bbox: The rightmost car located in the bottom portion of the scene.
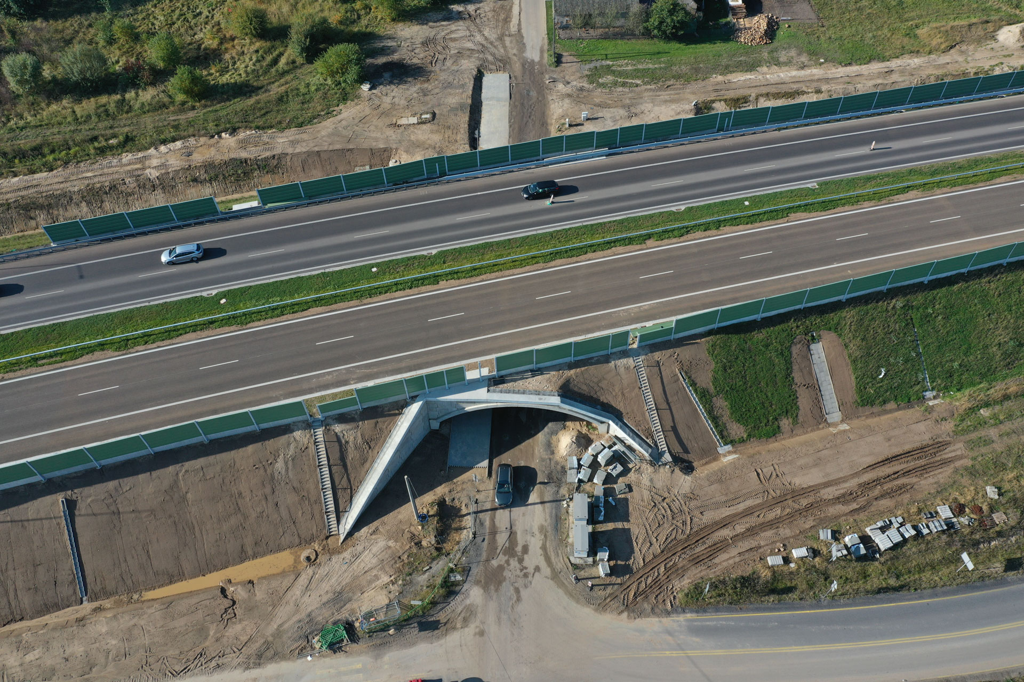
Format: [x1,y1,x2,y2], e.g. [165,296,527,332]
[492,466,516,511]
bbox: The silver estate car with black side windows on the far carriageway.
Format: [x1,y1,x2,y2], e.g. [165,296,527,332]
[160,241,203,265]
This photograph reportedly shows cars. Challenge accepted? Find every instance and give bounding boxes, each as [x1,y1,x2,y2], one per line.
[160,241,203,265]
[492,466,516,511]
[520,177,561,199]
